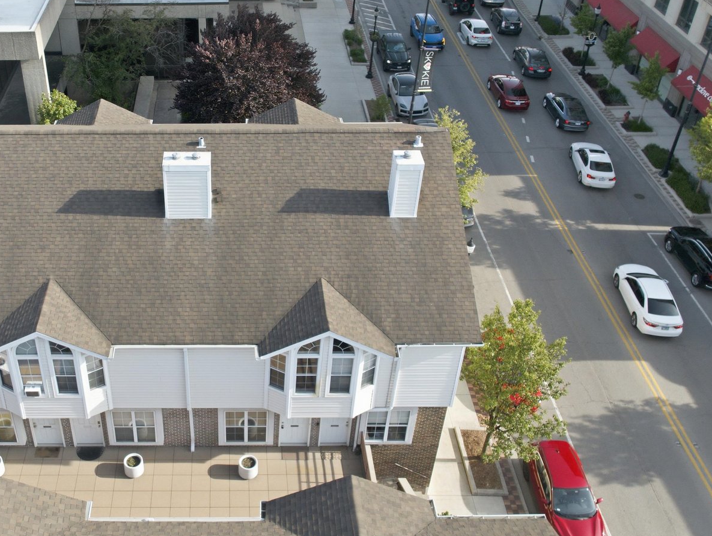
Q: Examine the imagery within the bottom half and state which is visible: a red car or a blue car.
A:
red car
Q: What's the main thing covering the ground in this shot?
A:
buildings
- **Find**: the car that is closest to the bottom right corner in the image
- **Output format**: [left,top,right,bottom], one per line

[519,439,607,536]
